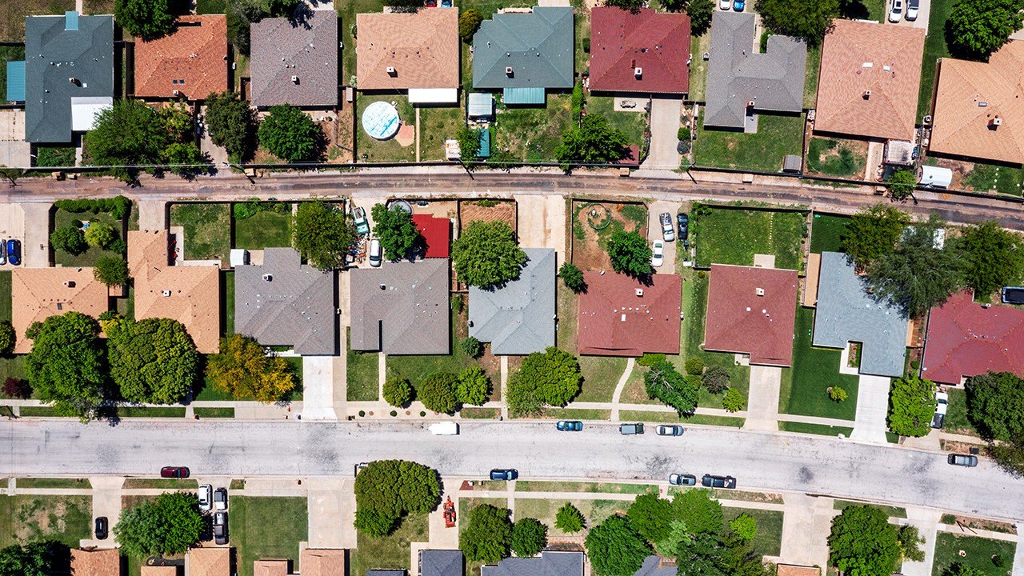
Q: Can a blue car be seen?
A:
Yes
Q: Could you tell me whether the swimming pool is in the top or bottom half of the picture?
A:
top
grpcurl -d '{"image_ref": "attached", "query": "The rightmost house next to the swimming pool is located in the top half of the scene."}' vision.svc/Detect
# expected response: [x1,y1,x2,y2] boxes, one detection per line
[356,7,459,106]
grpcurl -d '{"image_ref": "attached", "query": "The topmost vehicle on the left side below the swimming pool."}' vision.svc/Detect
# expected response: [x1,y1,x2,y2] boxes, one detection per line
[352,205,369,235]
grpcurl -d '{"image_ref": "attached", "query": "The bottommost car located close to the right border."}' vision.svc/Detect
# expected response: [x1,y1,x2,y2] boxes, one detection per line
[945,453,978,466]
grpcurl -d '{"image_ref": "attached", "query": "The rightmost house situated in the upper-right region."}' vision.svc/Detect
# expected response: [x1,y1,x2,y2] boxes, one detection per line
[925,39,1024,165]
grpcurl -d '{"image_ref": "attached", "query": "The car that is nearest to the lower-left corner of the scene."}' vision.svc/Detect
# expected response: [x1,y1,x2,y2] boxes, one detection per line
[93,515,110,540]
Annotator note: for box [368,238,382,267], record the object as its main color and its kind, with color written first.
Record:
white vehicle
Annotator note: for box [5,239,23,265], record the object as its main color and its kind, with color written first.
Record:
blue car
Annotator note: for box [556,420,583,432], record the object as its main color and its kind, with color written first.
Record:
blue vehicle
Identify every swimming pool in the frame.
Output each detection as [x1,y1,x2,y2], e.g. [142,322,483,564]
[361,101,402,140]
